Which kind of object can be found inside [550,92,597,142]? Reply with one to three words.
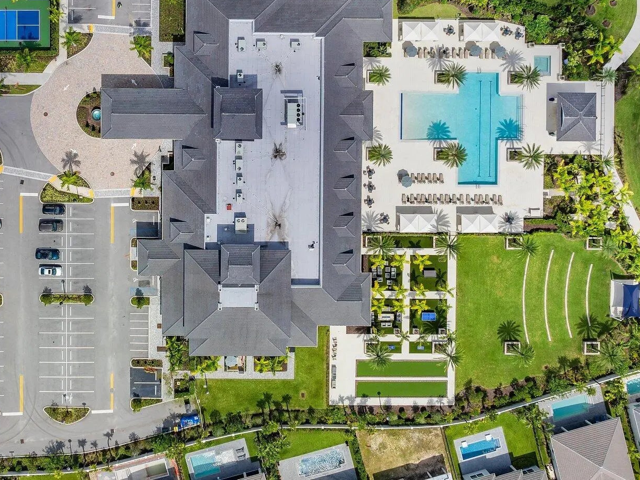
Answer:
building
